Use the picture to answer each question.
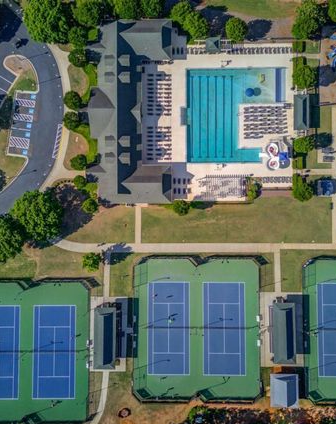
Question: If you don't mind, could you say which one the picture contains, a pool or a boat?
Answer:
pool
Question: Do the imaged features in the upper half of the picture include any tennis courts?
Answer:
No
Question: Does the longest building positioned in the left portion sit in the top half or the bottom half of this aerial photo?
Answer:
top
